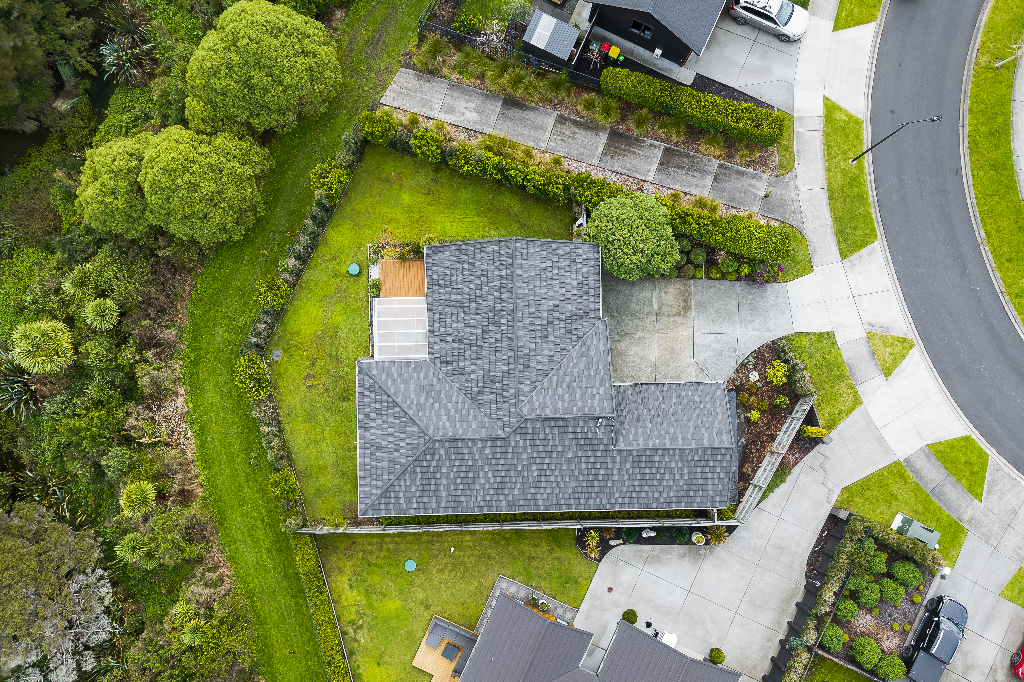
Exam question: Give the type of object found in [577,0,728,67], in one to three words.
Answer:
house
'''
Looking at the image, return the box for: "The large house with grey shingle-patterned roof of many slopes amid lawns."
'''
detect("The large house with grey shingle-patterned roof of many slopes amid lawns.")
[353,238,735,517]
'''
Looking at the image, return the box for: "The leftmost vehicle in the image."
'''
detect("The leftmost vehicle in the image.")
[727,0,812,43]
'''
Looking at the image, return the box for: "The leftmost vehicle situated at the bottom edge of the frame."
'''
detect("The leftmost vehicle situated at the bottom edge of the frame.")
[902,593,971,682]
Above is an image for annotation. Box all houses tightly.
[577,0,728,67]
[353,238,735,517]
[457,590,744,682]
